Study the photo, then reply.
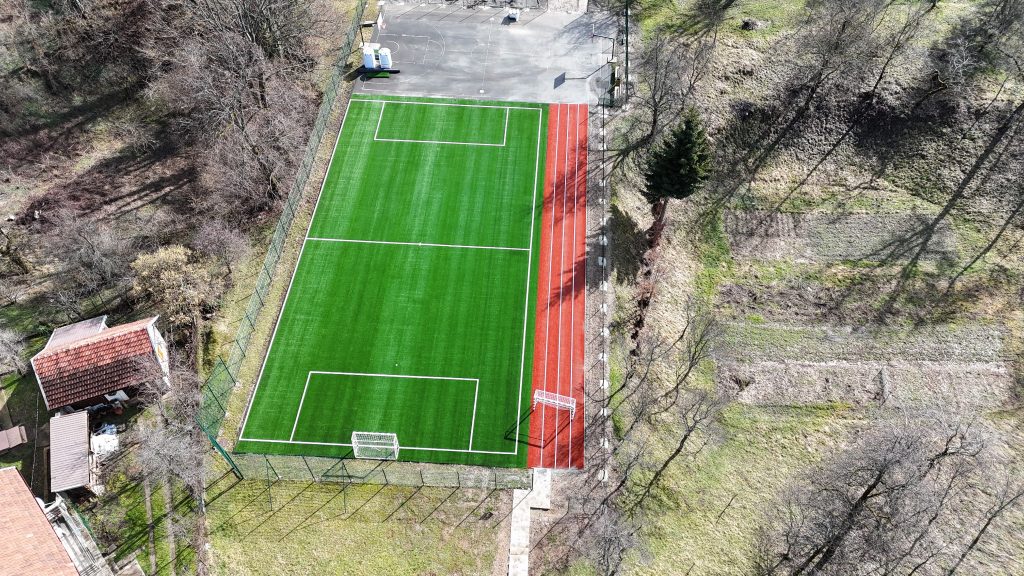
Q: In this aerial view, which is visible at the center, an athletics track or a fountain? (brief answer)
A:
athletics track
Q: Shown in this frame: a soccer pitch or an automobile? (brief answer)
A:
soccer pitch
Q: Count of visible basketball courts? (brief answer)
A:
1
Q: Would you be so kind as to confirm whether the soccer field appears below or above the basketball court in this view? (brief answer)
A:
below it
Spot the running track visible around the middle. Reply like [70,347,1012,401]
[527,104,590,470]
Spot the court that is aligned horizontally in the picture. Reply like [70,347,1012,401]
[349,4,605,104]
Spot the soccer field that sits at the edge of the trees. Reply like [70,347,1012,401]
[232,93,550,469]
